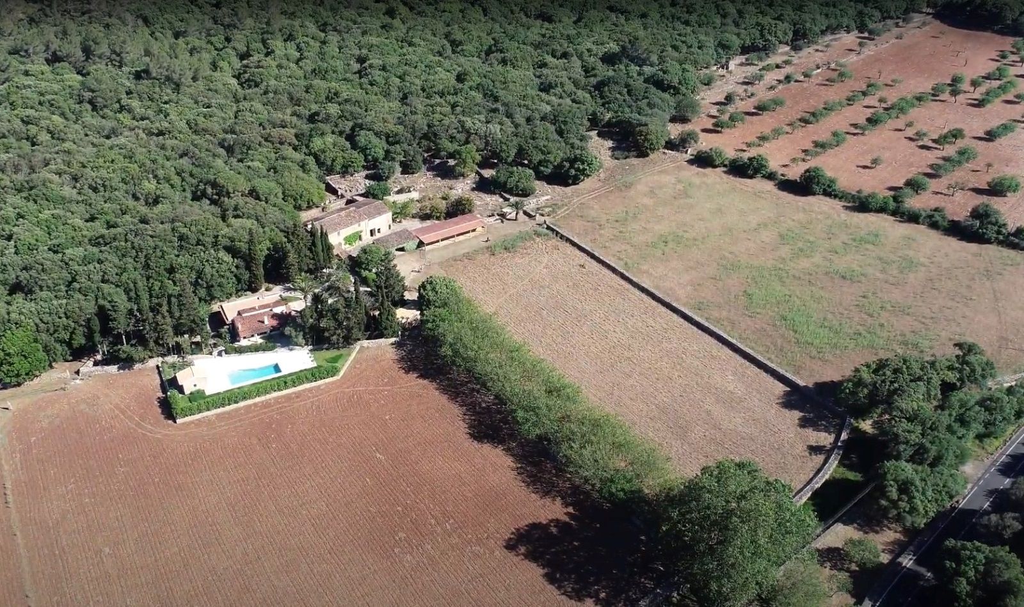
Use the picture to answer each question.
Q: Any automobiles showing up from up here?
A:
No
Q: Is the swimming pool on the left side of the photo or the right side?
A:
left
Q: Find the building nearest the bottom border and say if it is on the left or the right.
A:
left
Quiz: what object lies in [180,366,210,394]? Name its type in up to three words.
building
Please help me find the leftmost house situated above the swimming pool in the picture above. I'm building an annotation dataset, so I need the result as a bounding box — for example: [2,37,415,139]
[219,291,299,357]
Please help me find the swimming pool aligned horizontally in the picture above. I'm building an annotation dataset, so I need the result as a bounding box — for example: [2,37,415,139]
[227,363,283,386]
